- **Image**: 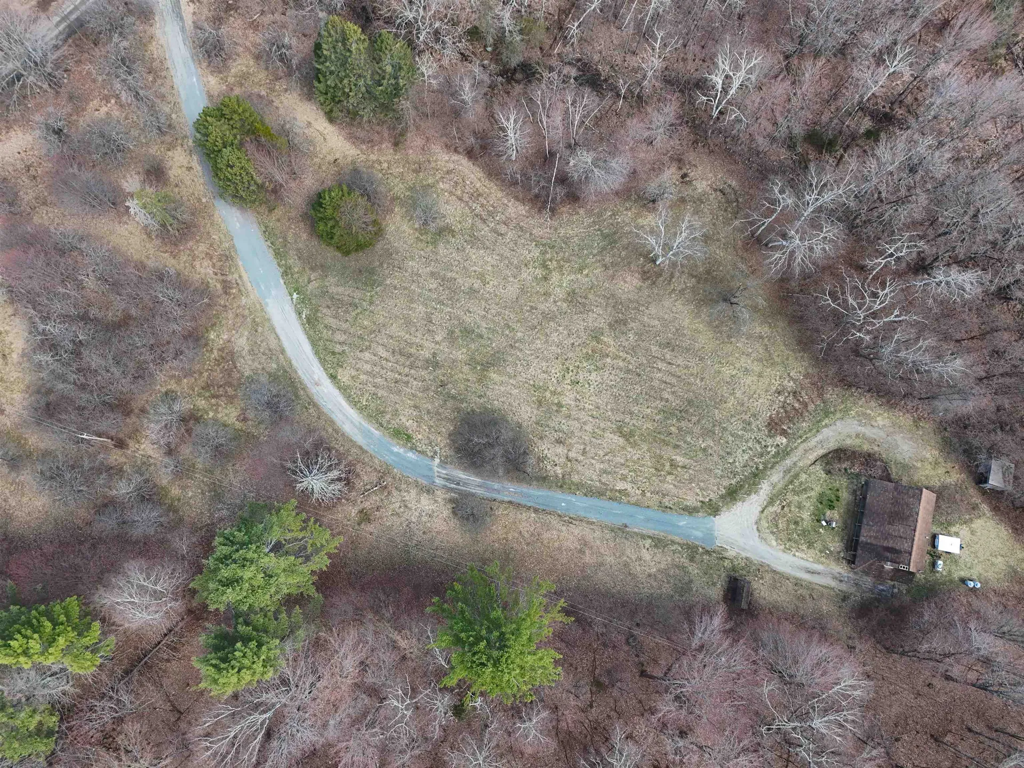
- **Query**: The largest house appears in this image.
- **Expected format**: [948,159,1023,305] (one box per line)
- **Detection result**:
[837,478,936,585]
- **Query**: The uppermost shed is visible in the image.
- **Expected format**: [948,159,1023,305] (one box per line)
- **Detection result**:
[964,460,1014,488]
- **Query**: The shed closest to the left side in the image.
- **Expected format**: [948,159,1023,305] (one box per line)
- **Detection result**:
[726,573,751,610]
